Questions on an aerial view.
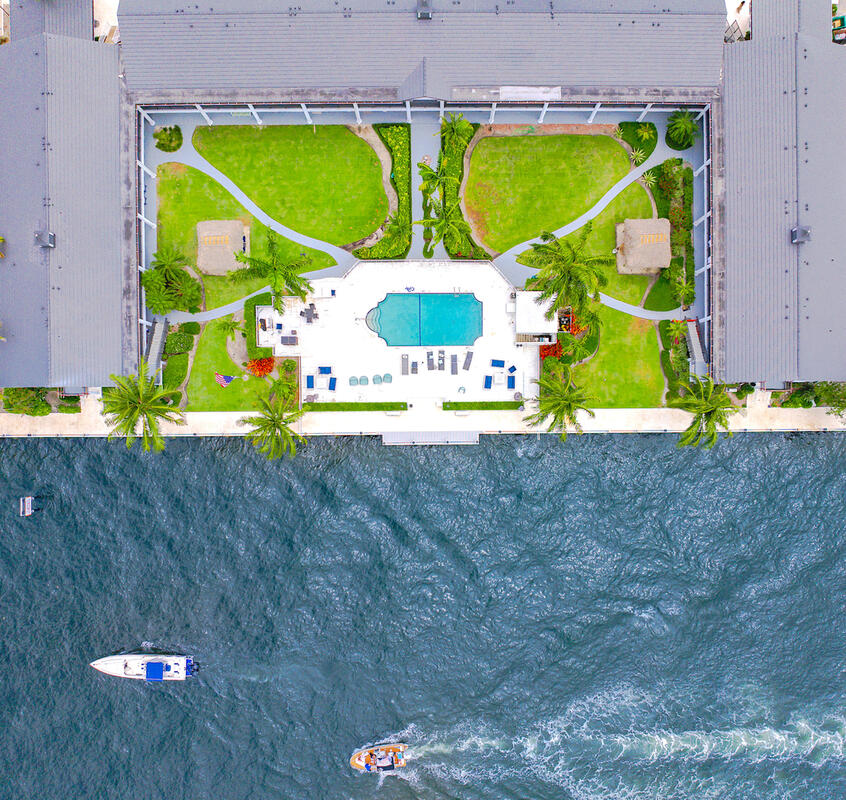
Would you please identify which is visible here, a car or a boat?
boat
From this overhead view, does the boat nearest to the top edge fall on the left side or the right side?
left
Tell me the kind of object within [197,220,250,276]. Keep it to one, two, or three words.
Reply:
shed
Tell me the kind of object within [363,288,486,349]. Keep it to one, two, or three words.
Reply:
swimming pool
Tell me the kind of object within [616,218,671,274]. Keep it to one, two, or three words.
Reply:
shed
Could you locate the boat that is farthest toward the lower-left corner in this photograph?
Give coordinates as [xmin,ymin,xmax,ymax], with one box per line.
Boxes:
[90,652,199,681]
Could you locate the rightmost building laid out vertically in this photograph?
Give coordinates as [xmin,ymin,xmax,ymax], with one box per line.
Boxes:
[692,31,846,382]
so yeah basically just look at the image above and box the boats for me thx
[350,742,412,773]
[90,652,199,681]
